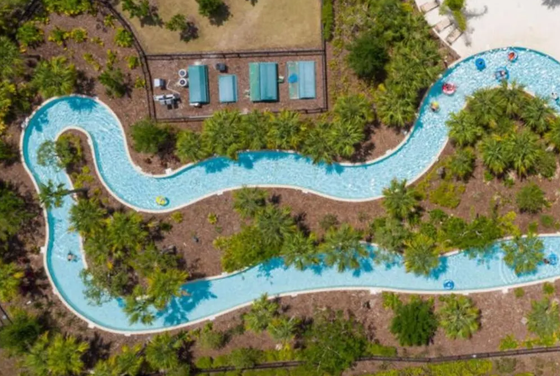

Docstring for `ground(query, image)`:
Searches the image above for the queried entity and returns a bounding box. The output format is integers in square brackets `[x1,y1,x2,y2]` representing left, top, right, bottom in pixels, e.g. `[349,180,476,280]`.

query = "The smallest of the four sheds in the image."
[219,75,239,102]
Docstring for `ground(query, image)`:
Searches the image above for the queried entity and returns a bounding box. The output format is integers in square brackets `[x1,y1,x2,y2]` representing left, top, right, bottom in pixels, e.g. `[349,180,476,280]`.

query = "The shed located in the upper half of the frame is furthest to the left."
[188,65,215,103]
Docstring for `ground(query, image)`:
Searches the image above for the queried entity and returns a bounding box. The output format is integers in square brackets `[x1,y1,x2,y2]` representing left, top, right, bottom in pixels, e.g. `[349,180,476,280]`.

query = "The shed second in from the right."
[249,62,280,101]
